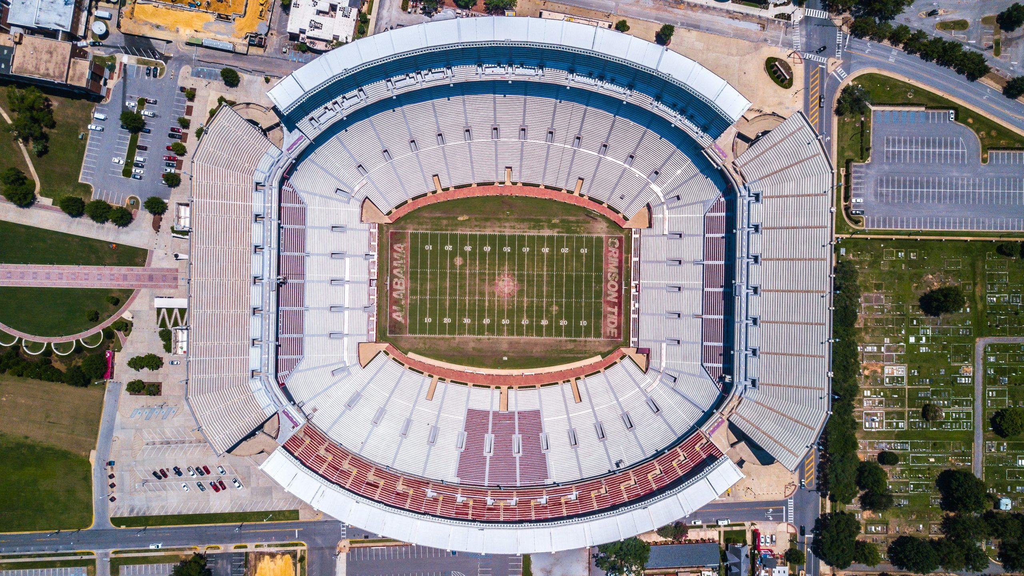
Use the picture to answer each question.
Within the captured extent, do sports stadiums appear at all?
Yes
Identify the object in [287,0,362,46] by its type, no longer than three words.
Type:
building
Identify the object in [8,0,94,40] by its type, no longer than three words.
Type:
building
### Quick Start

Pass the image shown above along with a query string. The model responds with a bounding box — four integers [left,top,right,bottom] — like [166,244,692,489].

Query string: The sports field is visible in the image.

[376,195,631,374]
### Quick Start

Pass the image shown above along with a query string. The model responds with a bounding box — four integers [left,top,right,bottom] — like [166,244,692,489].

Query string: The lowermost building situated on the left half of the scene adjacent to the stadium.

[171,327,188,356]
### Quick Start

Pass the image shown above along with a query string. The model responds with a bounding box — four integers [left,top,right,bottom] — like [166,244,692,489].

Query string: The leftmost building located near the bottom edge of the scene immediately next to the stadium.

[645,539,720,576]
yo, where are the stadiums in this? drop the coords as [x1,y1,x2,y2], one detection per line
[187,16,837,555]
